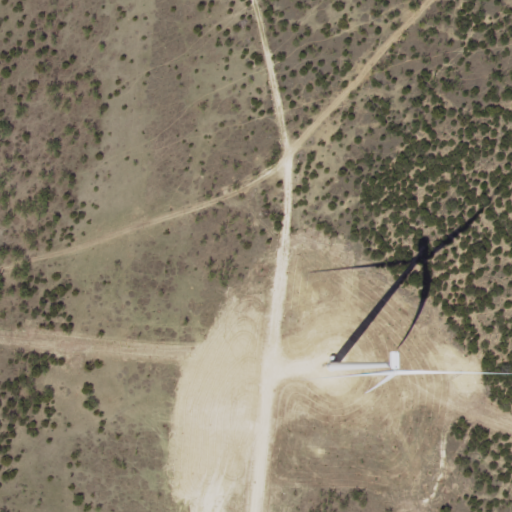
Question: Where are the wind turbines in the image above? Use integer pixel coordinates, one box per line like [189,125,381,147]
[296,351,510,392]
